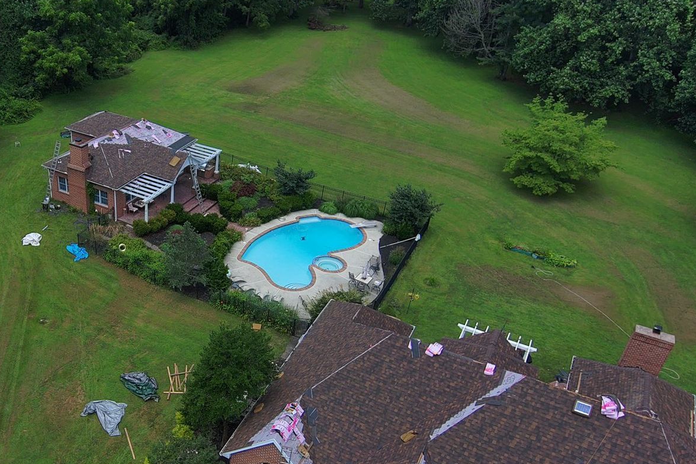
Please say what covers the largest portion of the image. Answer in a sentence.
The bulk of the photo consists of grass.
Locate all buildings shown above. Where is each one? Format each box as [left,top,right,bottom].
[218,300,696,464]
[41,111,223,235]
